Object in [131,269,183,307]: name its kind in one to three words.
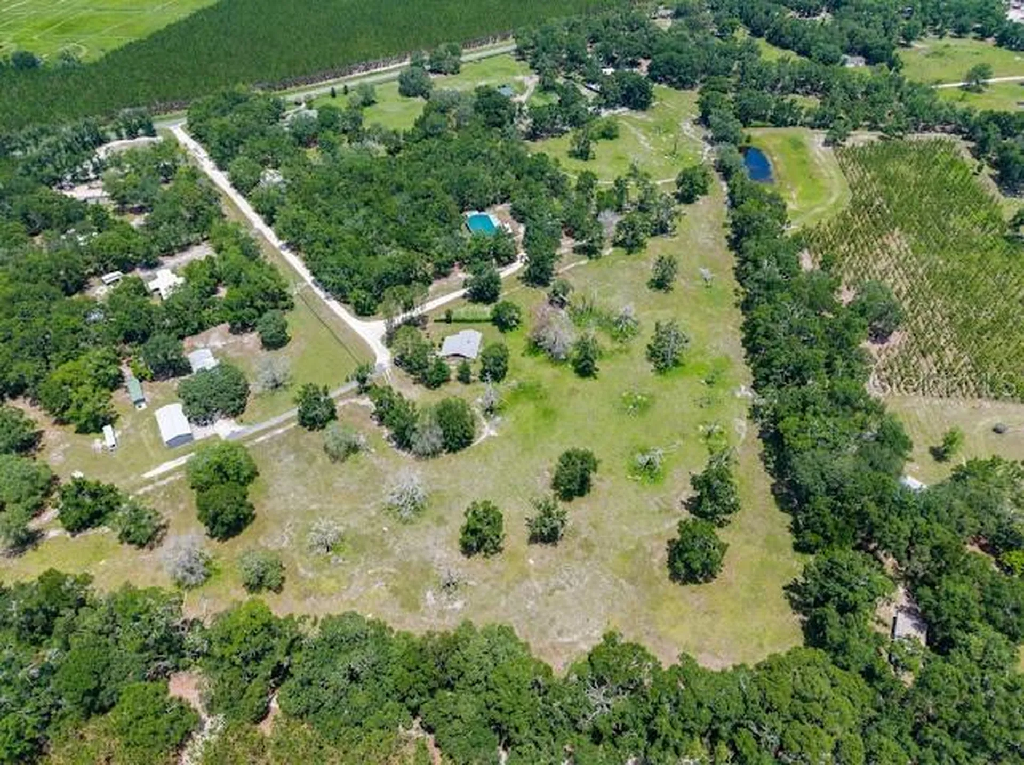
house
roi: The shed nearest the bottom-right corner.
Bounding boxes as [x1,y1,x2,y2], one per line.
[888,614,927,652]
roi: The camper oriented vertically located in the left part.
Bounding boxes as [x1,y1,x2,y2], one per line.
[105,425,118,456]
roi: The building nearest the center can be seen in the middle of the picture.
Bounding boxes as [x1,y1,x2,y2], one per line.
[443,331,483,367]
